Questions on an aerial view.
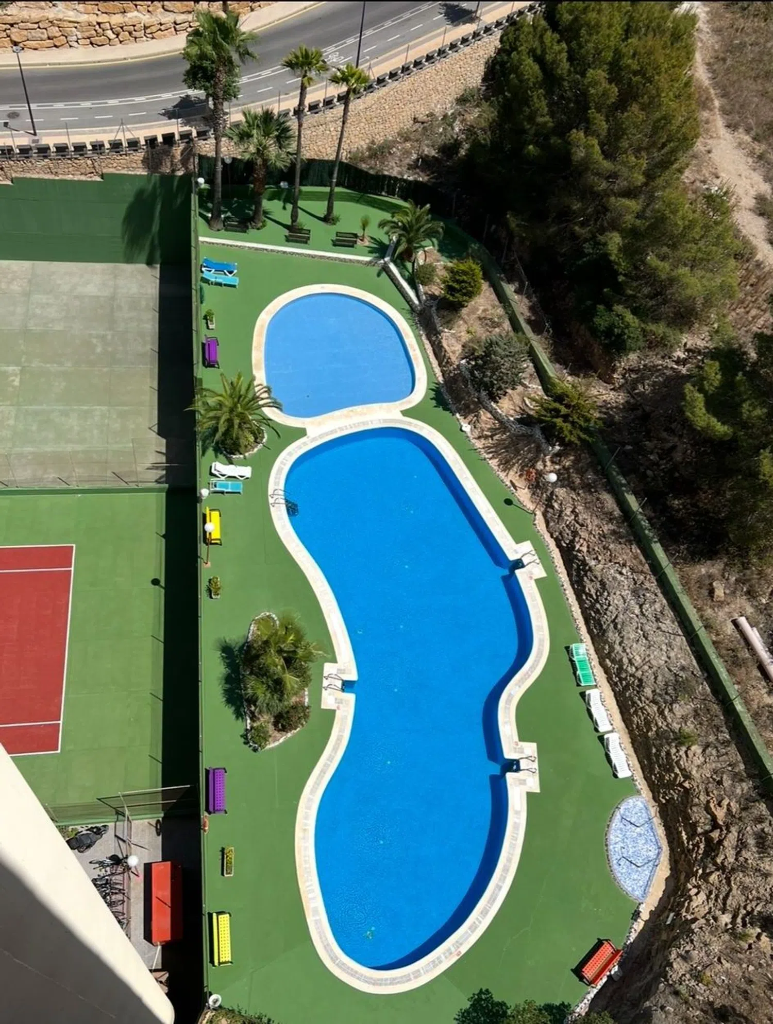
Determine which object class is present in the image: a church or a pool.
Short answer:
pool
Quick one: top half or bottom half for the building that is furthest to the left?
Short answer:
bottom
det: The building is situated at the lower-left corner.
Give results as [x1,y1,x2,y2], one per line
[0,745,169,1024]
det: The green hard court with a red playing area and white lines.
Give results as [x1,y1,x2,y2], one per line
[0,491,202,821]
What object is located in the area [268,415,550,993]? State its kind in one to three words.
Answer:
swimming pool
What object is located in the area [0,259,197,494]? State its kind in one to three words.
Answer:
sports court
